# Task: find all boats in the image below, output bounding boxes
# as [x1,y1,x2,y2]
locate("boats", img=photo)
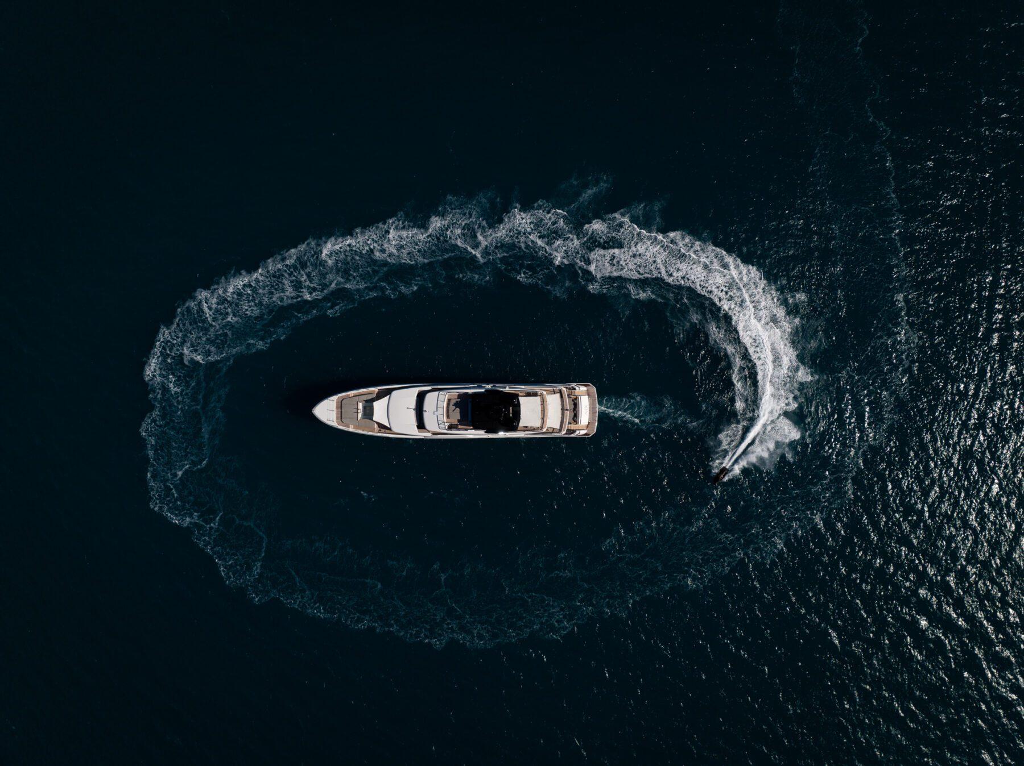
[312,383,598,438]
[714,466,731,487]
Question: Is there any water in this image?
Yes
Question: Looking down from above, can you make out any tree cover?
No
